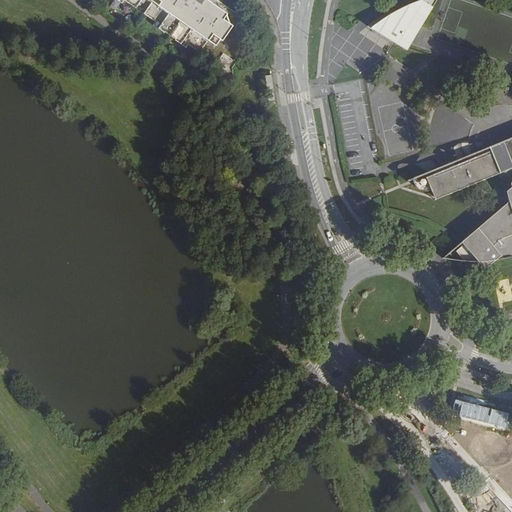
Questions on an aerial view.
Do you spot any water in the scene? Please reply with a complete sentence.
Yes, there's water in this view.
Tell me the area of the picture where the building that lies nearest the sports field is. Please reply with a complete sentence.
The building that lies nearest the sports field is in the top right part of the image.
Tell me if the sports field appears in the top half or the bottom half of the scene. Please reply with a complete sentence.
You can find the sports field in the top half.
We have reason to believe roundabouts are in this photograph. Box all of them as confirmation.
[327,257,448,381]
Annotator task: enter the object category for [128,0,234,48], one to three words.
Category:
building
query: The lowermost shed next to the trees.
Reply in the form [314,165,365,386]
[454,400,509,430]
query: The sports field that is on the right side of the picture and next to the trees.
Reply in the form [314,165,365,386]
[437,0,512,66]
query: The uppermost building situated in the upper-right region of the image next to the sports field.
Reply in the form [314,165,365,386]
[370,0,434,50]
